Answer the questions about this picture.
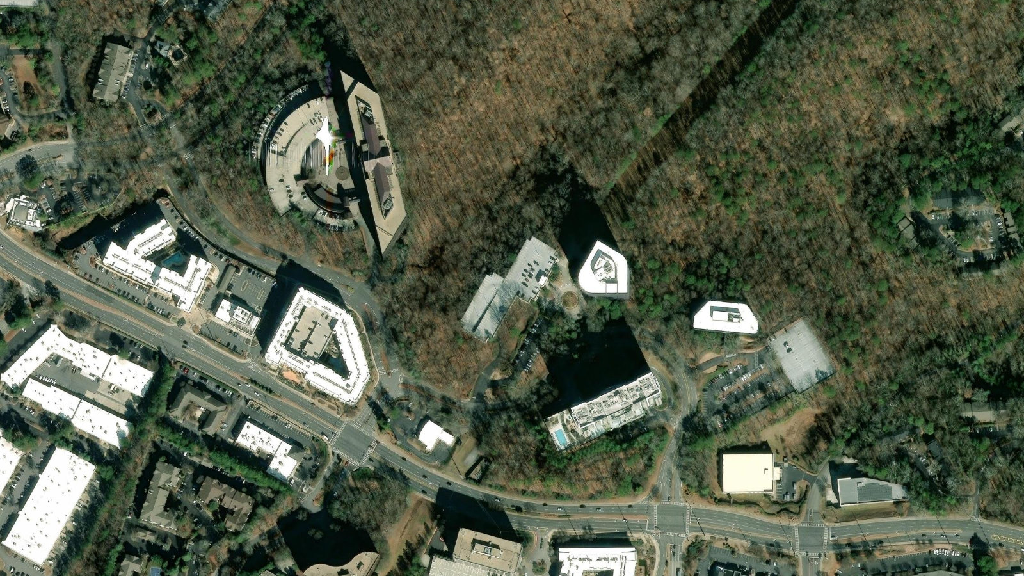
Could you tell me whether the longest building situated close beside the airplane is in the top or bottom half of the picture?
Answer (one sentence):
The longest building situated close beside the airplane sits in the top half of the picture.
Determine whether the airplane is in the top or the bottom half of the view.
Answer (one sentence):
The airplane is in the top half of the image.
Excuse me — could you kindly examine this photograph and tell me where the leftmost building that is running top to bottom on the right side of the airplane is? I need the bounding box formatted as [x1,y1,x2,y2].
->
[340,71,409,258]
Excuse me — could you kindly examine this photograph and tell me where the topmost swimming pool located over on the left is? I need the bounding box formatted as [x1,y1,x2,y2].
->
[163,252,183,268]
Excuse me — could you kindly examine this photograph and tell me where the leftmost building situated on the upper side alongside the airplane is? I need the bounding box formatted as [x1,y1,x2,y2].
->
[304,183,350,214]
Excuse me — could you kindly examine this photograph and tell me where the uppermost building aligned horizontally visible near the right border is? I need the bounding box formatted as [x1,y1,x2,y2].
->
[933,188,984,208]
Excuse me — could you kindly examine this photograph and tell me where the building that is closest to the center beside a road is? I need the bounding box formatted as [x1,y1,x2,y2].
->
[578,240,630,299]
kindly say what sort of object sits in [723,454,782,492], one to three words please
building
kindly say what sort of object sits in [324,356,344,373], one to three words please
swimming pool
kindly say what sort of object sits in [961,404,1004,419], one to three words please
house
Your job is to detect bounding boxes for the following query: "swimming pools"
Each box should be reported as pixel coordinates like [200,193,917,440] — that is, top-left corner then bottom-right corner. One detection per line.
[324,356,344,373]
[163,252,183,268]
[555,429,567,446]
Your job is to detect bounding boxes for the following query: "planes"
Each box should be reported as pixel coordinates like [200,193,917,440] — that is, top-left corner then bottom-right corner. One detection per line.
[316,116,336,176]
